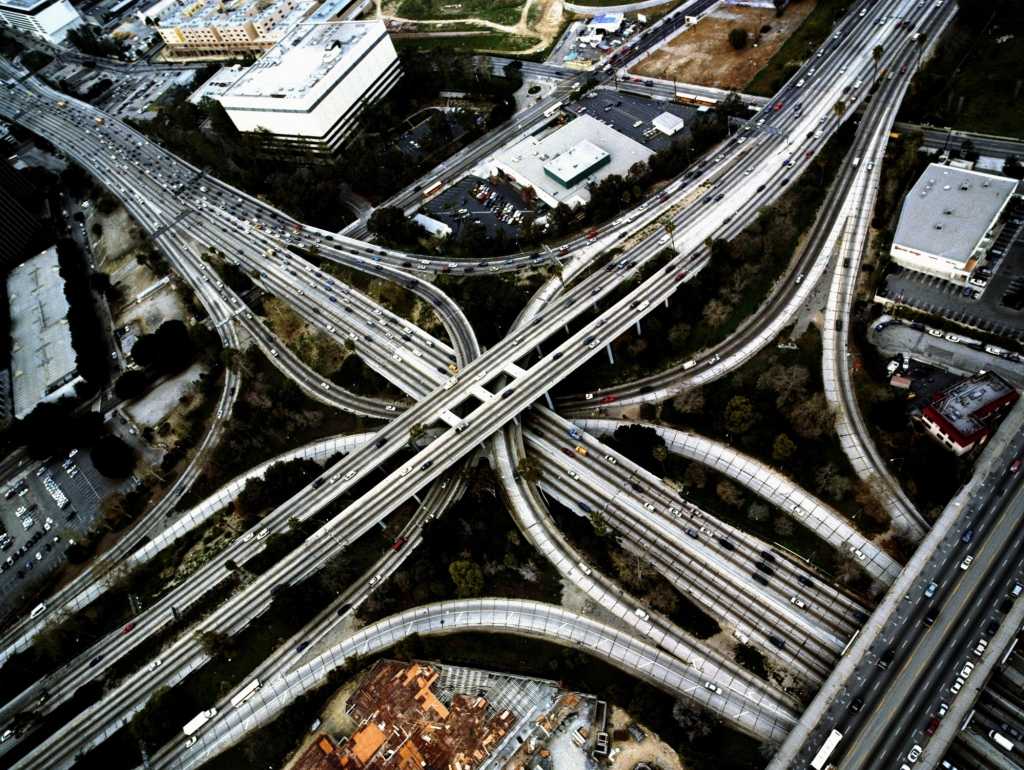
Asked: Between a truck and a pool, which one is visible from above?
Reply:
truck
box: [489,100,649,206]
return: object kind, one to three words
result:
building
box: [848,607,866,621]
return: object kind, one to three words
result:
car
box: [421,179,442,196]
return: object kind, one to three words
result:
vehicle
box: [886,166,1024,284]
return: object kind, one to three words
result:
building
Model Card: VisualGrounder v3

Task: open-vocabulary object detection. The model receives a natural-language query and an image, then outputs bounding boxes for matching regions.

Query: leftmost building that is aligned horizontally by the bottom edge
[289,656,561,770]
